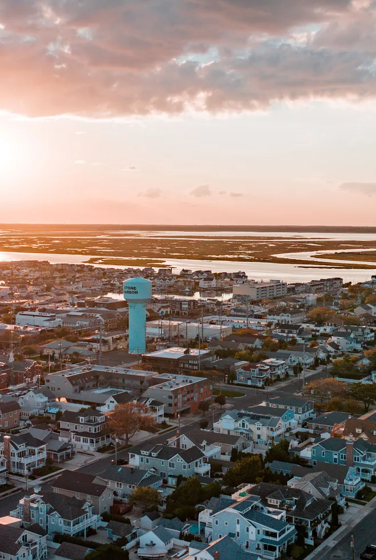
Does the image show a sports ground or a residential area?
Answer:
residential area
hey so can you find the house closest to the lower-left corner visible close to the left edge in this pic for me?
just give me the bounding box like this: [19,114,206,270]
[0,521,51,560]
